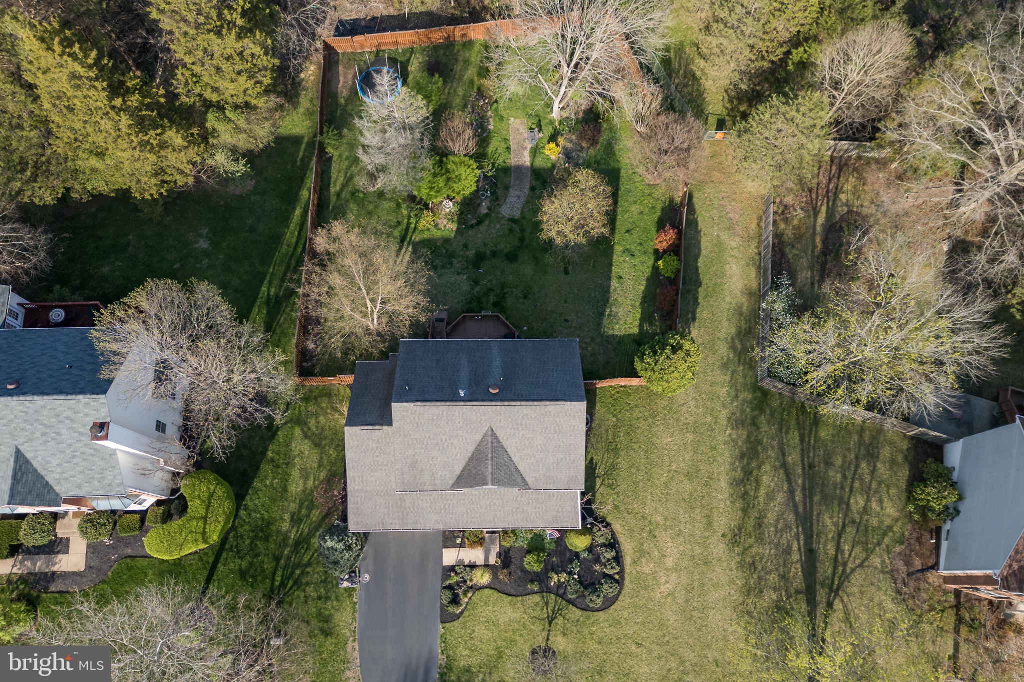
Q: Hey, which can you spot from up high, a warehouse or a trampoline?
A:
trampoline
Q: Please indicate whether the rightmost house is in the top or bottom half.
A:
bottom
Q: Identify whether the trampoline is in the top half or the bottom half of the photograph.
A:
top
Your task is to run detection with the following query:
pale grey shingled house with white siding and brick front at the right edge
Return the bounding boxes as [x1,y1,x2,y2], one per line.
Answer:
[929,414,1024,589]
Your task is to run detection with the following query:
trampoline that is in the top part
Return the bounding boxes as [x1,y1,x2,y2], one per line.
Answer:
[358,57,400,102]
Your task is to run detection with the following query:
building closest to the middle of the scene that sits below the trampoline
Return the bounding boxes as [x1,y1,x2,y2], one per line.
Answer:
[345,337,587,534]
